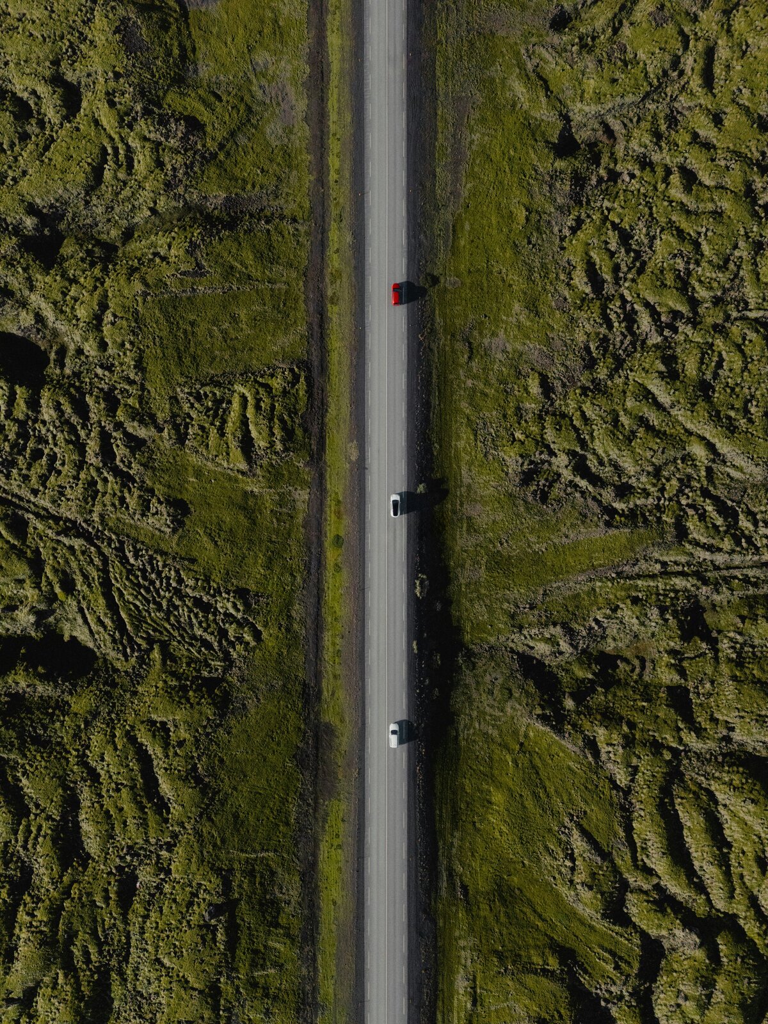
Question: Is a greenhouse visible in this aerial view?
No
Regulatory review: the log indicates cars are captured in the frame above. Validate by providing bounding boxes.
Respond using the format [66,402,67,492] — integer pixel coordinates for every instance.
[392,282,401,305]
[389,724,400,749]
[390,494,400,517]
